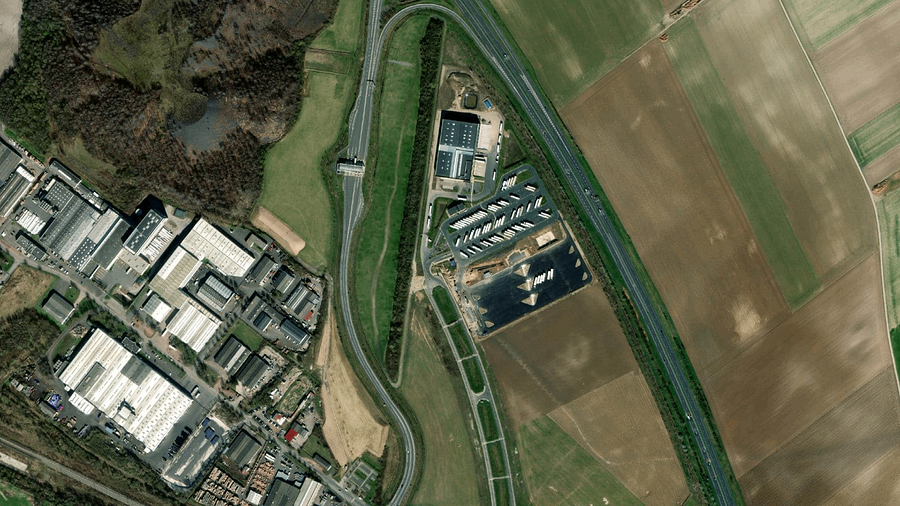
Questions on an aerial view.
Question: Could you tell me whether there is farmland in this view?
Yes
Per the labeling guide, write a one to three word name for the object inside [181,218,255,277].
building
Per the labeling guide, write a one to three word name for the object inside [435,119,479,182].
building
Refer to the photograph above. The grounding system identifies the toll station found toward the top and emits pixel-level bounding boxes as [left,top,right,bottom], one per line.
[336,159,366,178]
